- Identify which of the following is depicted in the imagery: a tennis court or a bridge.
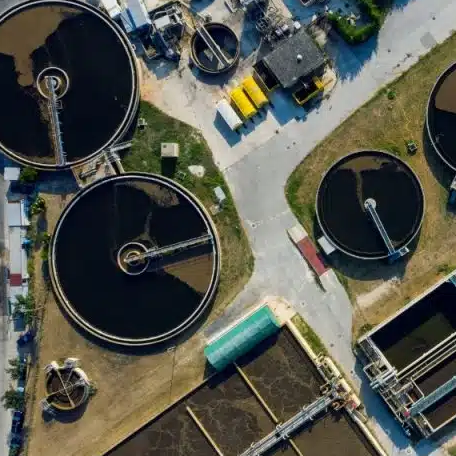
bridge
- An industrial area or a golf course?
industrial area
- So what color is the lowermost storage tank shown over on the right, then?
black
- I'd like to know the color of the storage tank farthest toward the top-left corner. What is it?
black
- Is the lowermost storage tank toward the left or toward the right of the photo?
left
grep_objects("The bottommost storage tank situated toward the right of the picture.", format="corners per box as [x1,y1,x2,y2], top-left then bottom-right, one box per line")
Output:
[316,150,424,259]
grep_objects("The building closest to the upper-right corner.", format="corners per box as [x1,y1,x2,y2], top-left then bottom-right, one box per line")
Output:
[264,32,326,89]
